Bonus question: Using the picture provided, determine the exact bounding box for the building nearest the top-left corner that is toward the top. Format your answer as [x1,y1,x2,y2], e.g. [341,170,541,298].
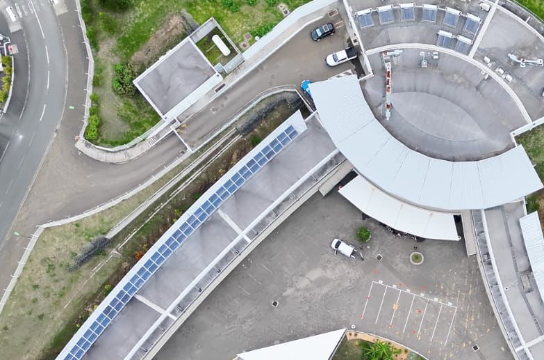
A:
[135,37,224,123]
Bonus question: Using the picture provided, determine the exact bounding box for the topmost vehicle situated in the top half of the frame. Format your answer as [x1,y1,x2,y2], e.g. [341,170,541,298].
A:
[311,22,337,44]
